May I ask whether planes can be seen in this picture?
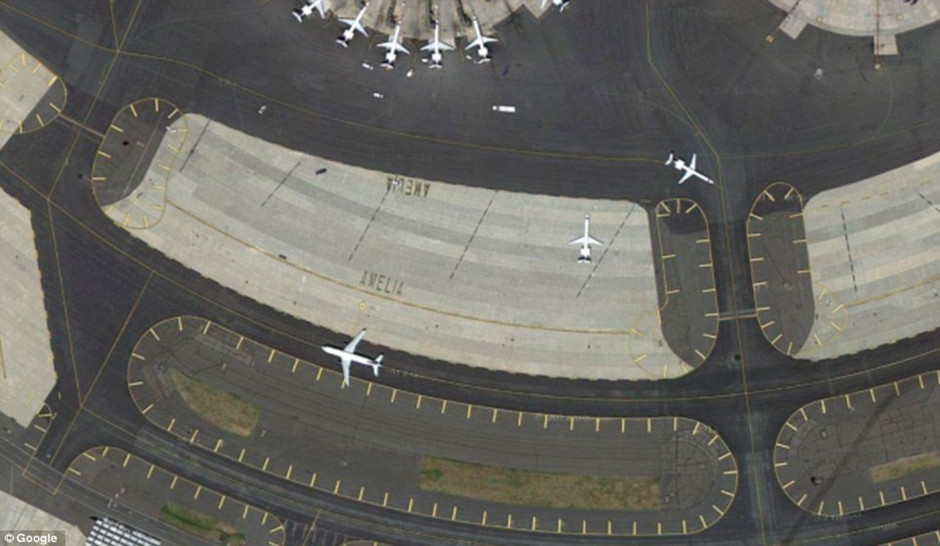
Yes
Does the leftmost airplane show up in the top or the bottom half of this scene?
top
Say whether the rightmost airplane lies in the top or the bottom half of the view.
top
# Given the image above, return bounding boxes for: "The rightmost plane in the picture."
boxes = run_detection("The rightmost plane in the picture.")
[667,152,713,184]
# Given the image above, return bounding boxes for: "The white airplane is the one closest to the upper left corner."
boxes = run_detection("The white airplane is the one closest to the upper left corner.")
[293,0,325,21]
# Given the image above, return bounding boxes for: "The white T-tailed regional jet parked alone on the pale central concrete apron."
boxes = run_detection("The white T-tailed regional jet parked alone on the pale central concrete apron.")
[568,215,603,263]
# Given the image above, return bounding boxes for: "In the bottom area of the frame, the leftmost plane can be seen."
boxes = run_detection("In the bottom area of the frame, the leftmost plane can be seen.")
[322,329,382,387]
